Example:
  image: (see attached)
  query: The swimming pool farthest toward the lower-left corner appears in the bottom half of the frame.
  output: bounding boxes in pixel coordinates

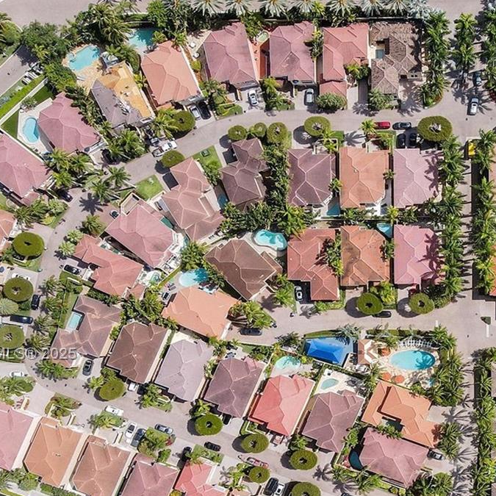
[67,310,83,331]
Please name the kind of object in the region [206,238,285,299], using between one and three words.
house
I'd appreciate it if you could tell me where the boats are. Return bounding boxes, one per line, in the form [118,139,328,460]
[234,451,266,467]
